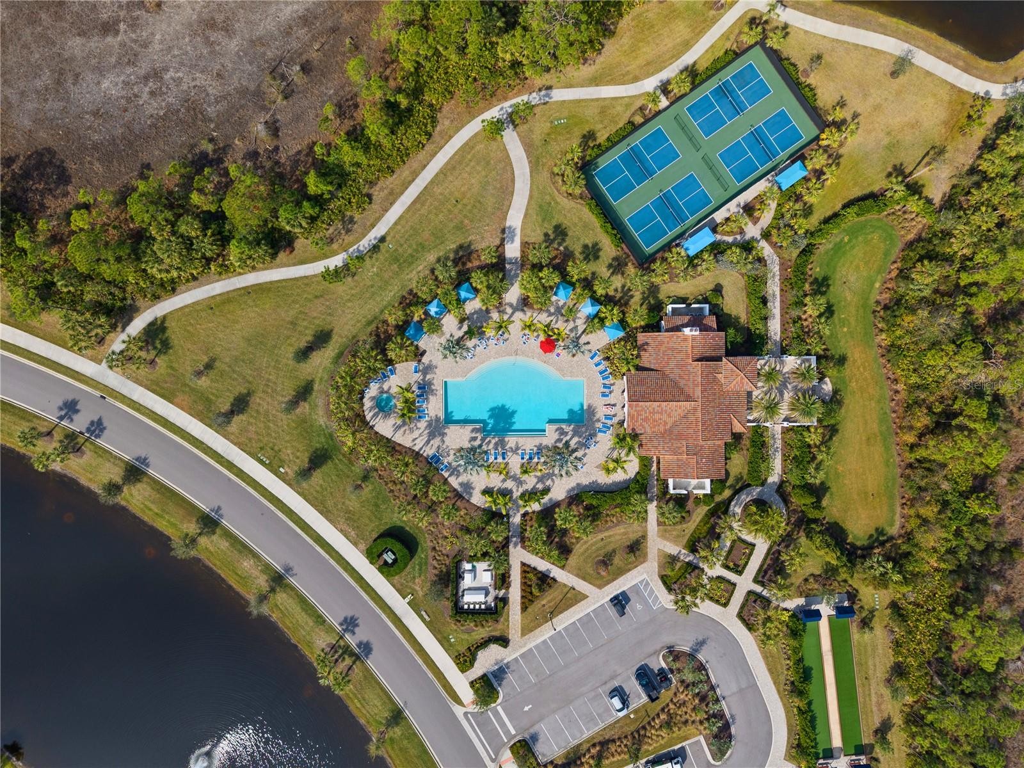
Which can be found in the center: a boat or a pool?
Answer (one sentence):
Visible in the center is a pool.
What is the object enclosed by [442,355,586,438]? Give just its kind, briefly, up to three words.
swimming pool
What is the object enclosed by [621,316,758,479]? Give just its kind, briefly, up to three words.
building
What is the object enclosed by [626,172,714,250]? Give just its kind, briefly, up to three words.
sports court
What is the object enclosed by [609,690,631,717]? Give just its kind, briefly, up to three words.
car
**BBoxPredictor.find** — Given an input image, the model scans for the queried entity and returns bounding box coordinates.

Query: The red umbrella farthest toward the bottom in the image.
[540,338,555,353]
